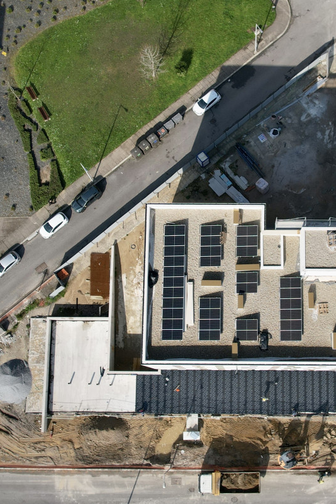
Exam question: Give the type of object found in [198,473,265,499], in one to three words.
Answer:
truck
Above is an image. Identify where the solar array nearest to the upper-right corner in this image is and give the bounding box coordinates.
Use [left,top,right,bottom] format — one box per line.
[237,226,258,258]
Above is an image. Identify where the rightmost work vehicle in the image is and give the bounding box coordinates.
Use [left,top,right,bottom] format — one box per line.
[273,448,324,473]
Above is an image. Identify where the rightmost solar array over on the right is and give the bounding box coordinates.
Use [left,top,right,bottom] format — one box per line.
[279,278,302,342]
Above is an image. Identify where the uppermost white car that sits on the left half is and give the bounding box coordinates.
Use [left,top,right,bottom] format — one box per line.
[38,211,70,239]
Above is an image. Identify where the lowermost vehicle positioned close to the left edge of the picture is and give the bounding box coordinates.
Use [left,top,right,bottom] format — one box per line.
[0,250,24,279]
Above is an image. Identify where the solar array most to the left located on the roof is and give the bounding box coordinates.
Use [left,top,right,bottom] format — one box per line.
[162,225,186,341]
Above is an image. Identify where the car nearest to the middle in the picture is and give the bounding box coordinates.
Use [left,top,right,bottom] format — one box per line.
[71,180,103,211]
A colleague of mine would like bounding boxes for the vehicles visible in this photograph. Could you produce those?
[71,180,103,211]
[0,250,24,279]
[38,211,70,239]
[192,89,221,116]
[198,473,265,499]
[273,448,324,473]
